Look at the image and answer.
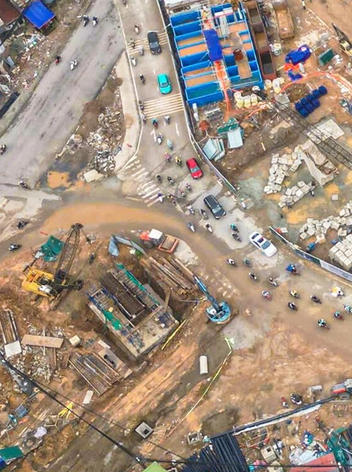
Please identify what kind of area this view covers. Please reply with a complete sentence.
This looks like an industrial area.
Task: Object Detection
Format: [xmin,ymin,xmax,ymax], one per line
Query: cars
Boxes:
[203,194,223,219]
[187,157,202,179]
[250,232,274,255]
[148,32,161,52]
[157,72,170,92]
